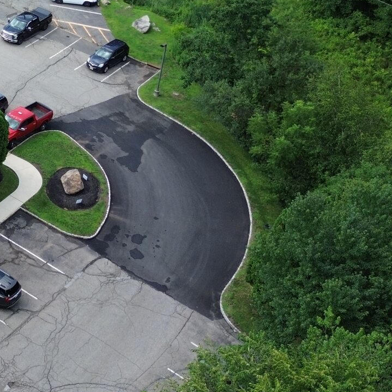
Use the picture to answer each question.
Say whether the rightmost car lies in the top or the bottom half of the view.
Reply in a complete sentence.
The rightmost car is in the top half of the image.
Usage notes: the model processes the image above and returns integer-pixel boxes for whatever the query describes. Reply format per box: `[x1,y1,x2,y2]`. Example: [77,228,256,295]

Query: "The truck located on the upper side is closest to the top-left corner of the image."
[0,5,55,44]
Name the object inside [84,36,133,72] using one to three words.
car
